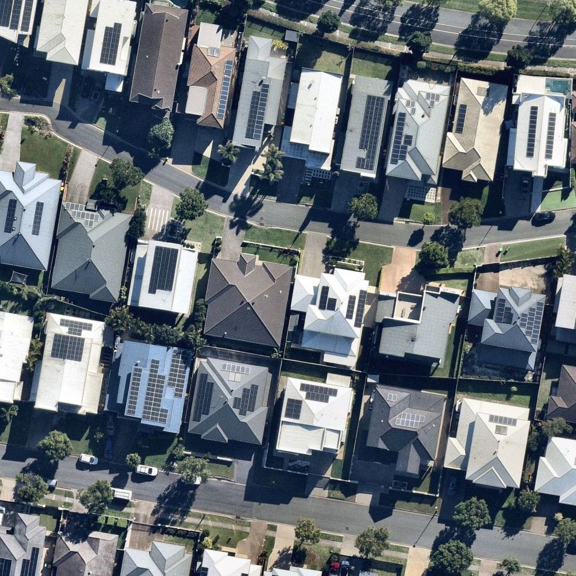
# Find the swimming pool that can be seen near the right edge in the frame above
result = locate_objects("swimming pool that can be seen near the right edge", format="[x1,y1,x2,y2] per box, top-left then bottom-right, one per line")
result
[545,79,573,96]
